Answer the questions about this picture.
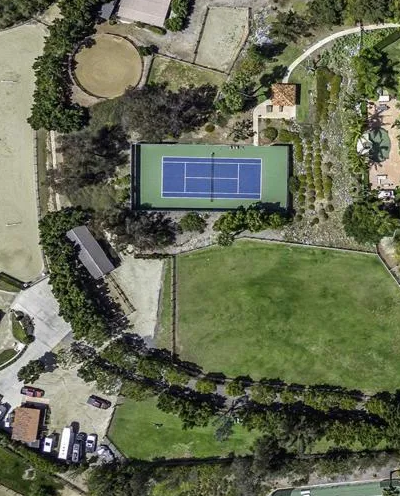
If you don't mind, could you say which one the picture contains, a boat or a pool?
pool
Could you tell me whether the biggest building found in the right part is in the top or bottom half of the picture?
top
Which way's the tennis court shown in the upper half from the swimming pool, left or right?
on the left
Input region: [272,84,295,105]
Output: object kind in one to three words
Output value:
building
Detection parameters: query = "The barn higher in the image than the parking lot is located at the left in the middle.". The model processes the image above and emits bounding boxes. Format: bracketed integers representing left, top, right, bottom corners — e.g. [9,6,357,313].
[69,225,118,279]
